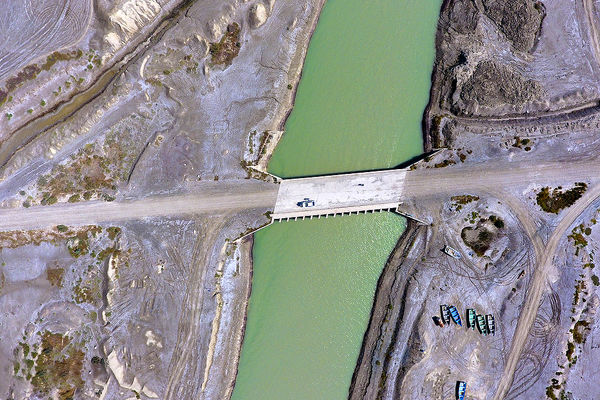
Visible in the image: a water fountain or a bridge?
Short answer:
bridge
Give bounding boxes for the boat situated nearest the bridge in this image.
[444,246,462,258]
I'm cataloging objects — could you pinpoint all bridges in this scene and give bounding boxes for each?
[233,149,448,244]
